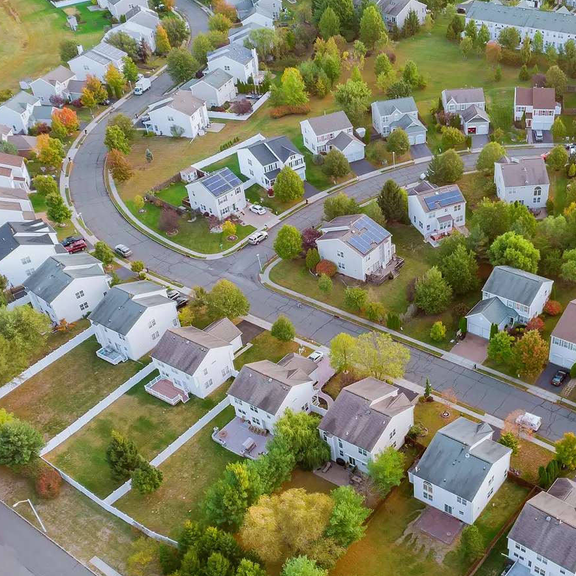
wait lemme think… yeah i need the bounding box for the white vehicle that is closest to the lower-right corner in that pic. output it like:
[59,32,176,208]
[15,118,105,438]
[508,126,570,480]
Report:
[512,407,543,429]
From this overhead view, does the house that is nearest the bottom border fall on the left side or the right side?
right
